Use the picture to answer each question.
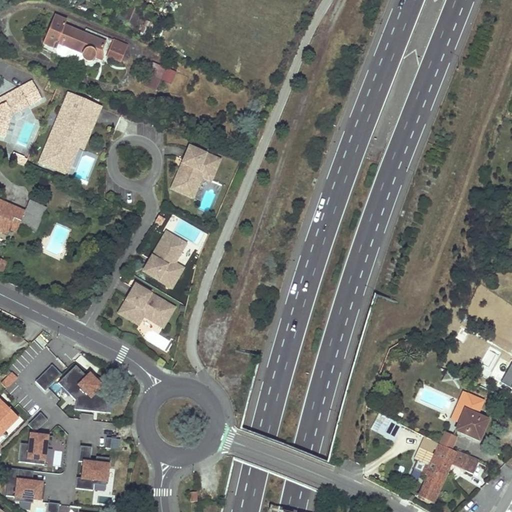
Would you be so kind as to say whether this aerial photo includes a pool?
Yes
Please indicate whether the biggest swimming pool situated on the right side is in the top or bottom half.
bottom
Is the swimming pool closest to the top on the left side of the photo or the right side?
left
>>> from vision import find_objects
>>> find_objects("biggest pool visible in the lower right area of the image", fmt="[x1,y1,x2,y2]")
[415,384,458,422]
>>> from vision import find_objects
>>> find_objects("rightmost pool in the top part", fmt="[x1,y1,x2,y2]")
[193,181,222,210]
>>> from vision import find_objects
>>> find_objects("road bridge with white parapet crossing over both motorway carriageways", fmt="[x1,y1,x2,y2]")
[232,426,338,490]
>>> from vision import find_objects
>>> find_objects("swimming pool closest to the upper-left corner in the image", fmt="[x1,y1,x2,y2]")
[6,109,40,158]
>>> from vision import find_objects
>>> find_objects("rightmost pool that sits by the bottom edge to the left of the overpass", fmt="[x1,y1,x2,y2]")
[92,468,115,506]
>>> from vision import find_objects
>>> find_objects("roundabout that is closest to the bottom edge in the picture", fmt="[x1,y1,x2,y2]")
[126,355,237,473]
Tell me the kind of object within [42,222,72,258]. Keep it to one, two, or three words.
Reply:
swimming pool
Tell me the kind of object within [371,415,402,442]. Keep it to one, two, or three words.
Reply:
building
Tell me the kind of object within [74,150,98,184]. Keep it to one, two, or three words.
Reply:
swimming pool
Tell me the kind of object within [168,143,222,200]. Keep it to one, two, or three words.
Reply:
house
